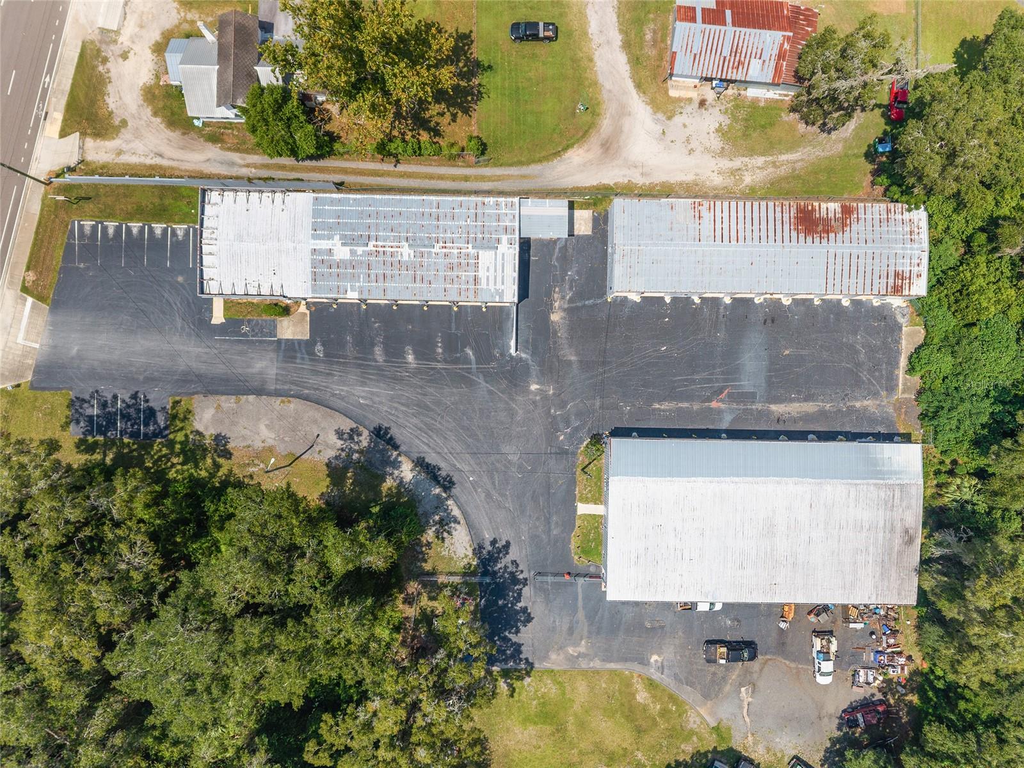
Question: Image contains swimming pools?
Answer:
No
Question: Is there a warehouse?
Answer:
Yes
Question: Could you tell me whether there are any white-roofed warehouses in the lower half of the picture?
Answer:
Yes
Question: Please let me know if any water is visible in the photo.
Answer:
No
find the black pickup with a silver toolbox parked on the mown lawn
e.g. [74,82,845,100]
[509,20,558,45]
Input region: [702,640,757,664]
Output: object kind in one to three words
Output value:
truck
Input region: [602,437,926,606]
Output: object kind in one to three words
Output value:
warehouse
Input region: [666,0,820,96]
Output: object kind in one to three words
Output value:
barn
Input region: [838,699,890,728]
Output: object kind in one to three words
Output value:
truck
